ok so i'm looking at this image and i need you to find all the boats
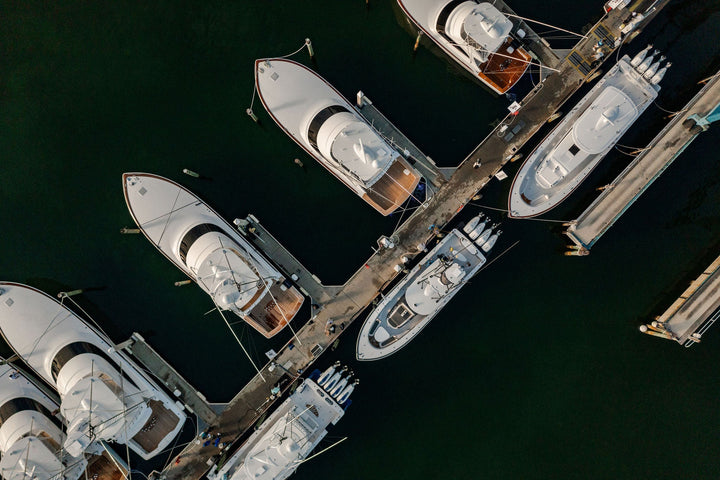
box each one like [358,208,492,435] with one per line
[0,358,127,480]
[255,58,424,217]
[207,363,356,480]
[122,171,305,380]
[508,43,672,219]
[0,280,190,480]
[387,0,587,98]
[356,213,519,361]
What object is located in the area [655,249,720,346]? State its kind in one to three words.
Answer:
pier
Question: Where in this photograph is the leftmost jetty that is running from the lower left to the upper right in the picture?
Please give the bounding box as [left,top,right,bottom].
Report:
[155,0,643,480]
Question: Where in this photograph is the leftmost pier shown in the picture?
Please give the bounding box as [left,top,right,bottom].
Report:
[124,330,229,440]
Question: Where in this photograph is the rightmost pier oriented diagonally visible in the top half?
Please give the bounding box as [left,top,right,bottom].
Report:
[567,64,720,252]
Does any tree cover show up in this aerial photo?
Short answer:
No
